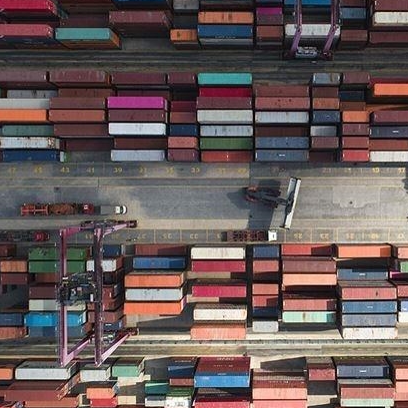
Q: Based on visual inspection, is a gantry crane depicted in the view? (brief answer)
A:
Yes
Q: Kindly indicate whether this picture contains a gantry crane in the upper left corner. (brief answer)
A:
No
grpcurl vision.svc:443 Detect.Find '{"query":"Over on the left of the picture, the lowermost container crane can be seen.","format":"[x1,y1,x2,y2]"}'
[53,219,144,375]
